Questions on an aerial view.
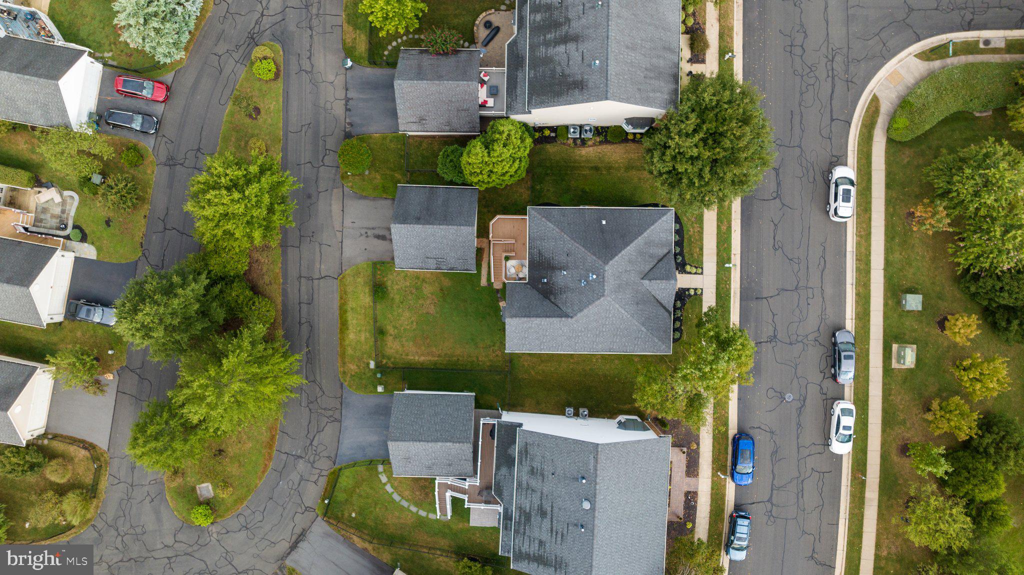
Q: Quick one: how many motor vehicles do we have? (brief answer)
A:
eight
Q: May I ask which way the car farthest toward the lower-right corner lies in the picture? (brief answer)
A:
up and down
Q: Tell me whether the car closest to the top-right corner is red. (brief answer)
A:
No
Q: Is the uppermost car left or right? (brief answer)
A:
left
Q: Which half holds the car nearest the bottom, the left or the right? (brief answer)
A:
right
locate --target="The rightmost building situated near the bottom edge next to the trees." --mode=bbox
[492,395,672,575]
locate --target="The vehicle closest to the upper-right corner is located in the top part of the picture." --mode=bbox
[827,165,858,221]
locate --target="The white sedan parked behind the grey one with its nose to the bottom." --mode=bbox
[829,400,857,455]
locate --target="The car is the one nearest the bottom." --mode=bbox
[725,512,751,565]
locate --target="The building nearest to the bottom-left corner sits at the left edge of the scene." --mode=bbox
[0,356,59,447]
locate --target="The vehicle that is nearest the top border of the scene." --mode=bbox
[111,74,172,104]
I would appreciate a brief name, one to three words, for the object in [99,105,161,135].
car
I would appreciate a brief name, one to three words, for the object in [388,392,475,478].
building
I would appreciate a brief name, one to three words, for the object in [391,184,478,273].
building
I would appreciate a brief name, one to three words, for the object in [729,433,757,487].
car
